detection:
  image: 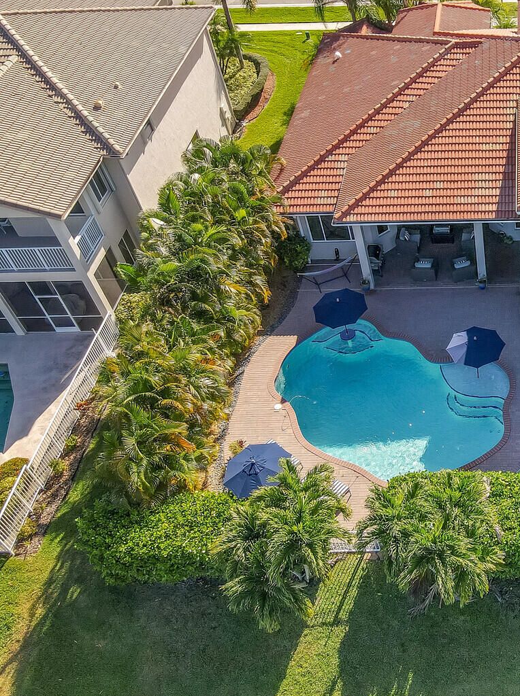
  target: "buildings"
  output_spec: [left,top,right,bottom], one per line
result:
[0,0,240,333]
[262,0,520,292]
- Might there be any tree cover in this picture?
Yes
